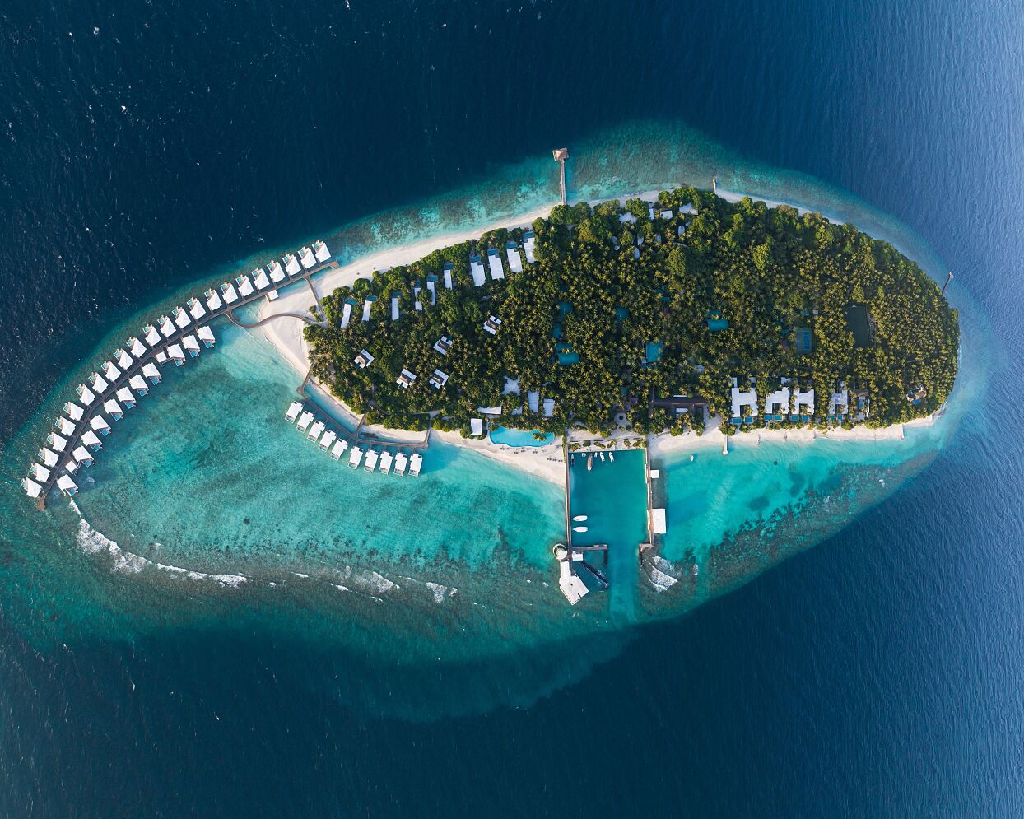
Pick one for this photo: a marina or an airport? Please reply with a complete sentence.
This looks like a marina.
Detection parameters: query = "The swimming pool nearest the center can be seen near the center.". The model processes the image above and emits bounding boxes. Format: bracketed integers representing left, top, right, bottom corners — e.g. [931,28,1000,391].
[489,424,555,447]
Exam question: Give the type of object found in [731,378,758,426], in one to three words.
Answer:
house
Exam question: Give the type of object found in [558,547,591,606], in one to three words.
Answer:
building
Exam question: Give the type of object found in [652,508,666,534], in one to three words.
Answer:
building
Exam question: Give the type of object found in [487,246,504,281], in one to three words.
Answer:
house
